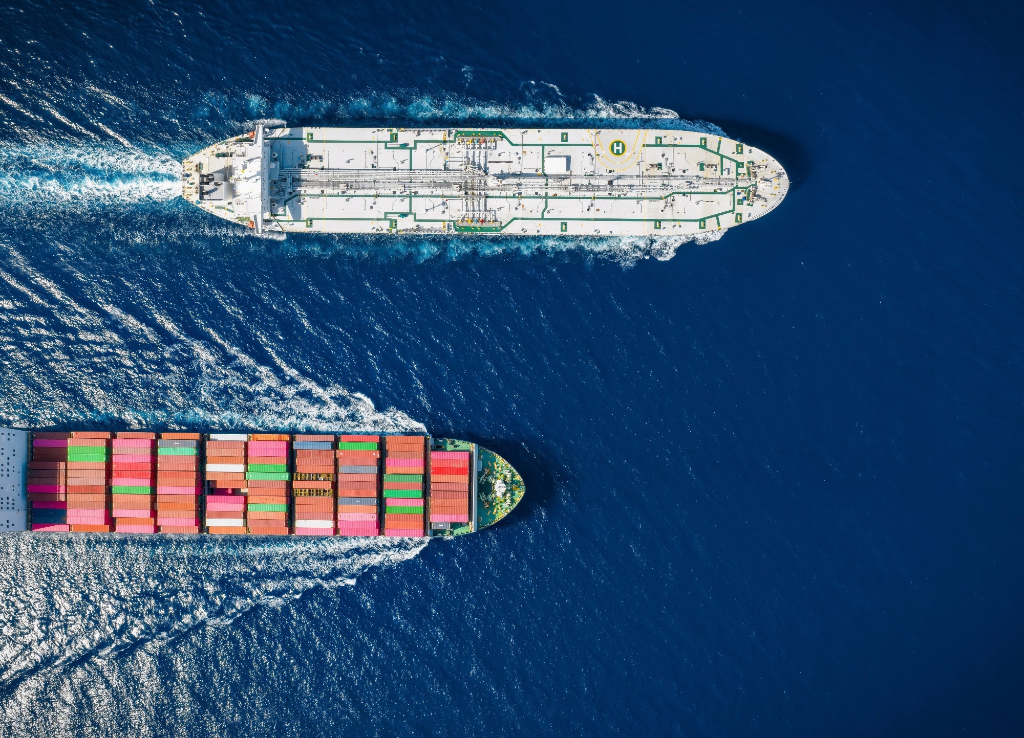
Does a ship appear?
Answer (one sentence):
Yes, the photo shows a ship.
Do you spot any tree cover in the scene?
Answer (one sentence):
No, tree cover can't be seen anywhere here.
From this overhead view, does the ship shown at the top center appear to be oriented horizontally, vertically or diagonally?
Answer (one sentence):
In this picture, the ship shown at the top center is oriented horizontally.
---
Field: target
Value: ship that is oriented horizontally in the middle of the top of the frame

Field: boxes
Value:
[181,123,791,239]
